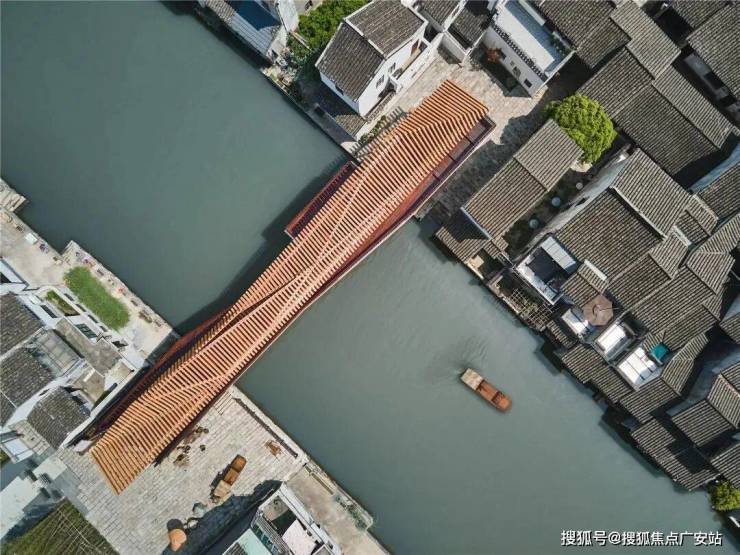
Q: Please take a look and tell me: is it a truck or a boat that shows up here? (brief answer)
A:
boat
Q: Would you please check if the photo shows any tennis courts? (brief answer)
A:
No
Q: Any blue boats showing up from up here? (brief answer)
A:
No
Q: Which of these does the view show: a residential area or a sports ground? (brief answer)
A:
residential area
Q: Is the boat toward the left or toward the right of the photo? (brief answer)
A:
right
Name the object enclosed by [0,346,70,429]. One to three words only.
house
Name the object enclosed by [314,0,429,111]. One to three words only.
house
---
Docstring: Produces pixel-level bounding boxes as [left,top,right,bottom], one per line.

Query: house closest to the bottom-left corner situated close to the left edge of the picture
[0,464,60,542]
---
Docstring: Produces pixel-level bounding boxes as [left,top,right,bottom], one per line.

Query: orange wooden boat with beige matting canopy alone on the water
[457,366,515,410]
